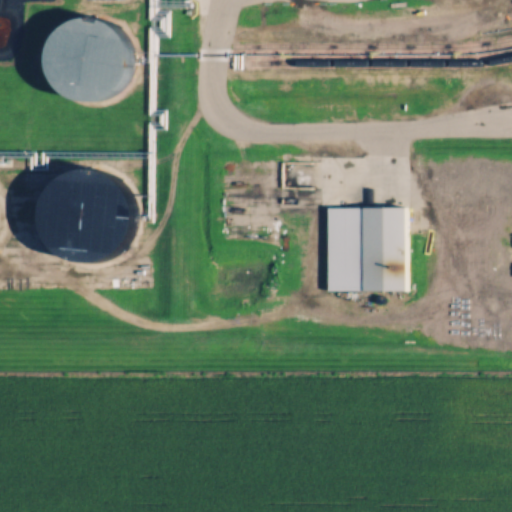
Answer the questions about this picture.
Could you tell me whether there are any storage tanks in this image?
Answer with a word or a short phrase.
Yes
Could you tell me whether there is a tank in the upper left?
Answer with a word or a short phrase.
Yes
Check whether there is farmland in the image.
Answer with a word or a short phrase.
Yes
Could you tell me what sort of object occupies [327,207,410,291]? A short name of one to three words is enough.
building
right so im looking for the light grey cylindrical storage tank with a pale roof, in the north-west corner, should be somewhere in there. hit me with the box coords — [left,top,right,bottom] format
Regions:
[42,16,135,104]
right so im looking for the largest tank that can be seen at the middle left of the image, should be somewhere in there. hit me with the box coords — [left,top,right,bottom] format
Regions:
[36,168,138,263]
